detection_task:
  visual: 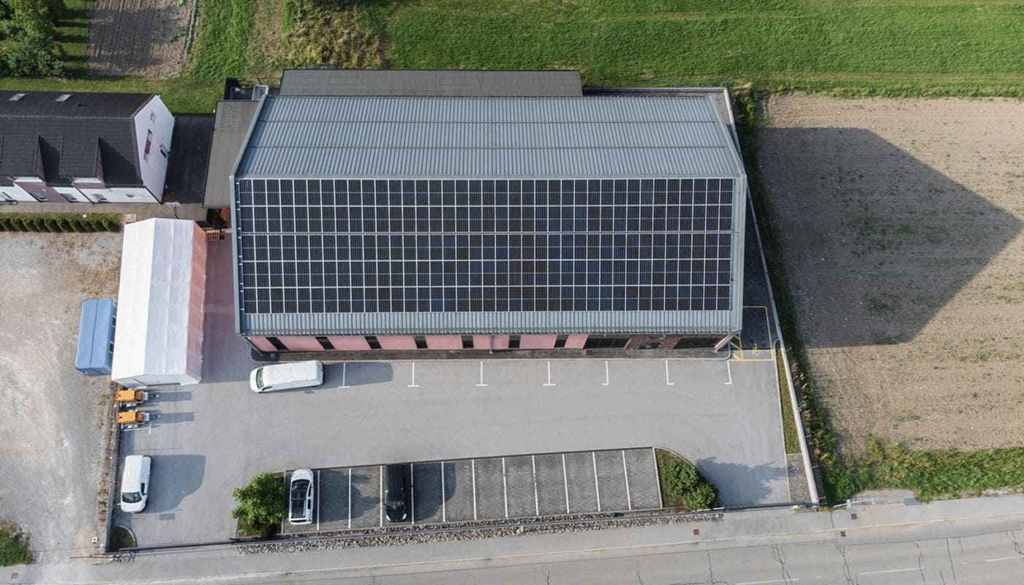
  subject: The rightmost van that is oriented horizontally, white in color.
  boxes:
[248,355,324,392]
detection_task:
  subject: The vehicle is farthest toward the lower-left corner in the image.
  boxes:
[116,454,152,511]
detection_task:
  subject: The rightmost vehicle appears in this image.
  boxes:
[379,462,409,524]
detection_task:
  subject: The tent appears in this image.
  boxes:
[112,218,206,388]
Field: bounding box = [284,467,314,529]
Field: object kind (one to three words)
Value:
car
